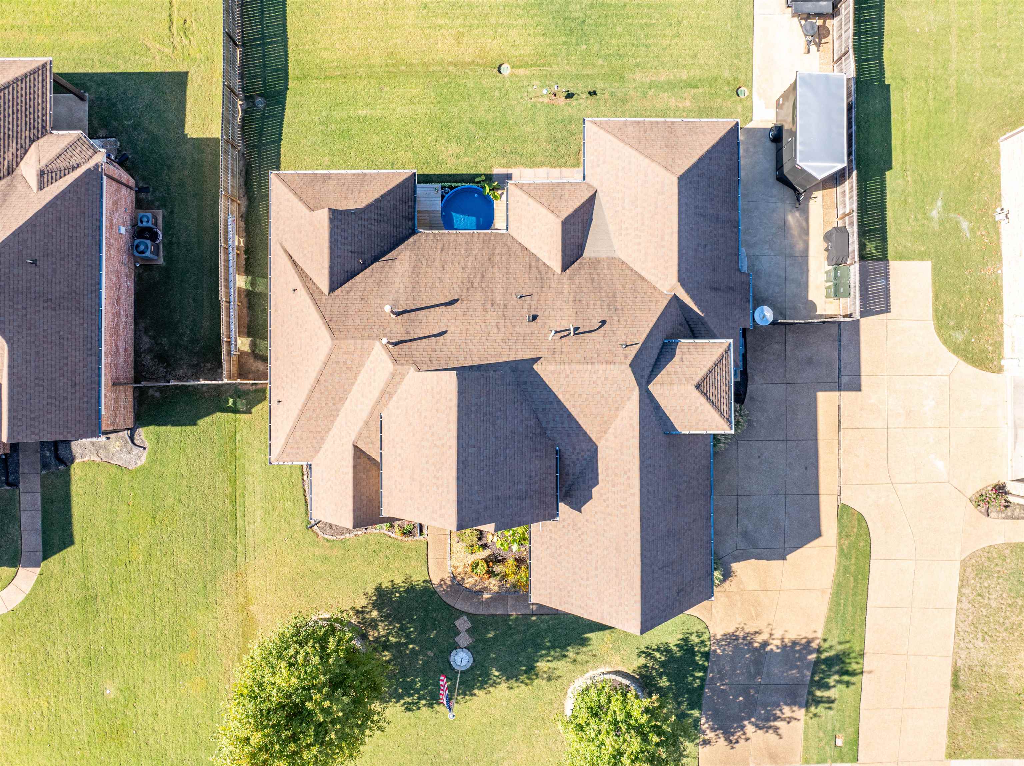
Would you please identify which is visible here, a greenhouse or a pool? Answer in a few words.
pool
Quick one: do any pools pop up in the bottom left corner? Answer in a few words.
No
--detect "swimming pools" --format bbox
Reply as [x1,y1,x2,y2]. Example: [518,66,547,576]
[441,185,494,228]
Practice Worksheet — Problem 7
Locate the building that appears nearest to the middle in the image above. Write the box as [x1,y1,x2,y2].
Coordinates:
[268,117,754,639]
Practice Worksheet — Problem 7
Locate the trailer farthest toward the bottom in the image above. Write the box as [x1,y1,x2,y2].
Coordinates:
[769,71,847,207]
